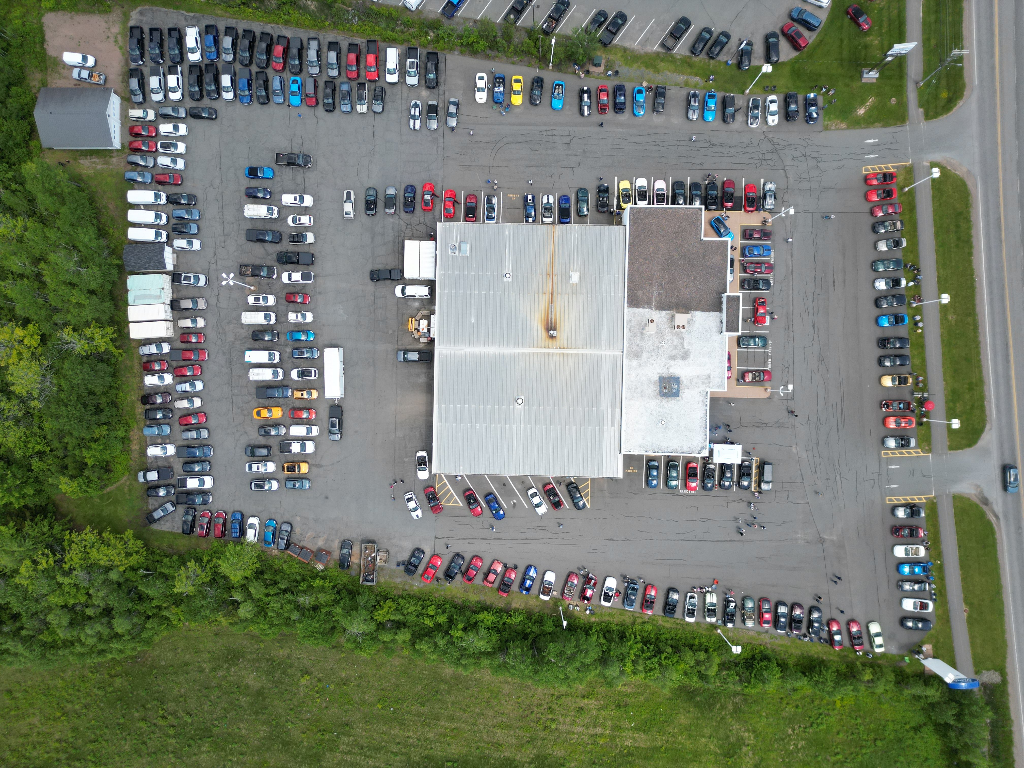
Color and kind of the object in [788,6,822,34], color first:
blue car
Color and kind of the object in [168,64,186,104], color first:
white vehicle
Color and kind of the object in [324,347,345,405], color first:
white trailer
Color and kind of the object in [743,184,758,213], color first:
red car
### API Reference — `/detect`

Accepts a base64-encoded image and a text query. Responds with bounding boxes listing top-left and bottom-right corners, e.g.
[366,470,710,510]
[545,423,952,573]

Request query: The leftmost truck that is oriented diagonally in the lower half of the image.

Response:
[145,500,179,526]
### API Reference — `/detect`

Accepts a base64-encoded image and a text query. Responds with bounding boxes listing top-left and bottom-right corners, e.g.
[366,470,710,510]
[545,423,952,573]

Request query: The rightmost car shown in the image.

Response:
[1002,464,1021,493]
